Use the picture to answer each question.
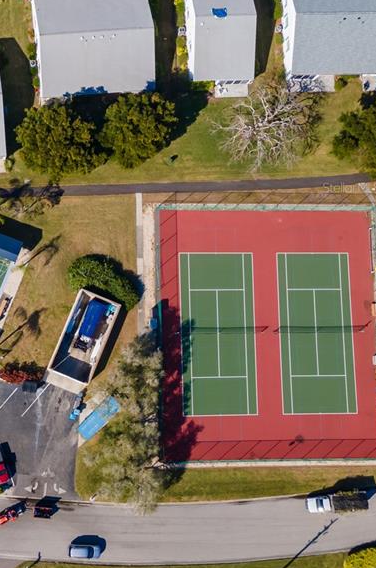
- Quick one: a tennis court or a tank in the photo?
tennis court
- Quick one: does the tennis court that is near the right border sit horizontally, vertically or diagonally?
vertically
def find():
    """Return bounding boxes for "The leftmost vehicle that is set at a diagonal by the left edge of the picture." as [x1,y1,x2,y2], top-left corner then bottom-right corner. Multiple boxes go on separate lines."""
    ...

[0,502,30,527]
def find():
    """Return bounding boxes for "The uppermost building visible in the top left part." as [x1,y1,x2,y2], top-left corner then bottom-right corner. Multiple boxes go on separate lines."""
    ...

[31,0,155,101]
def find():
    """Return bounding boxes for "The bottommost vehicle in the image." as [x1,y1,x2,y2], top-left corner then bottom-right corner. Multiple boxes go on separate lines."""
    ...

[69,538,104,556]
